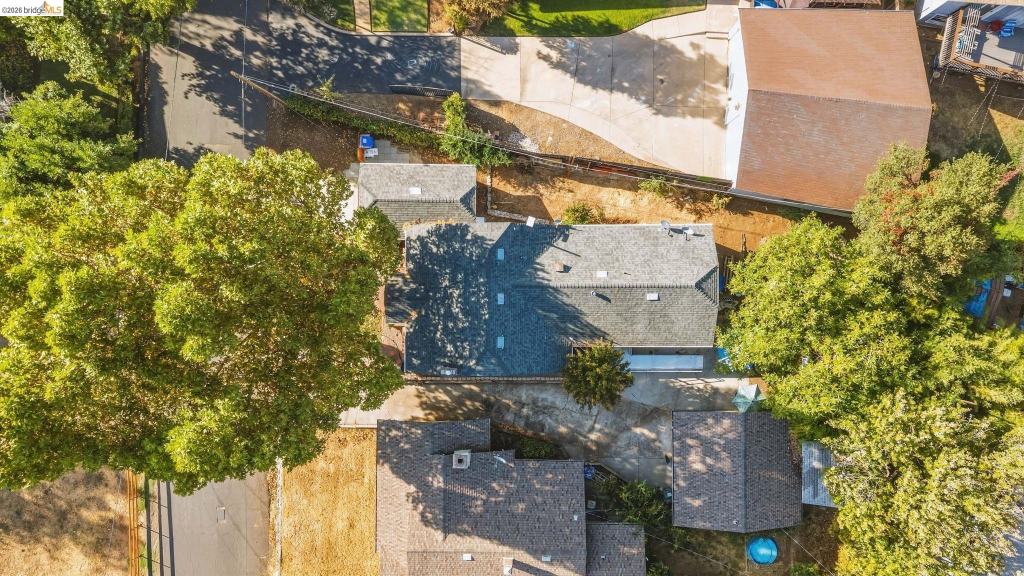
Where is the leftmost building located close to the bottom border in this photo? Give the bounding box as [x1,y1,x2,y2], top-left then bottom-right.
[376,418,647,576]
